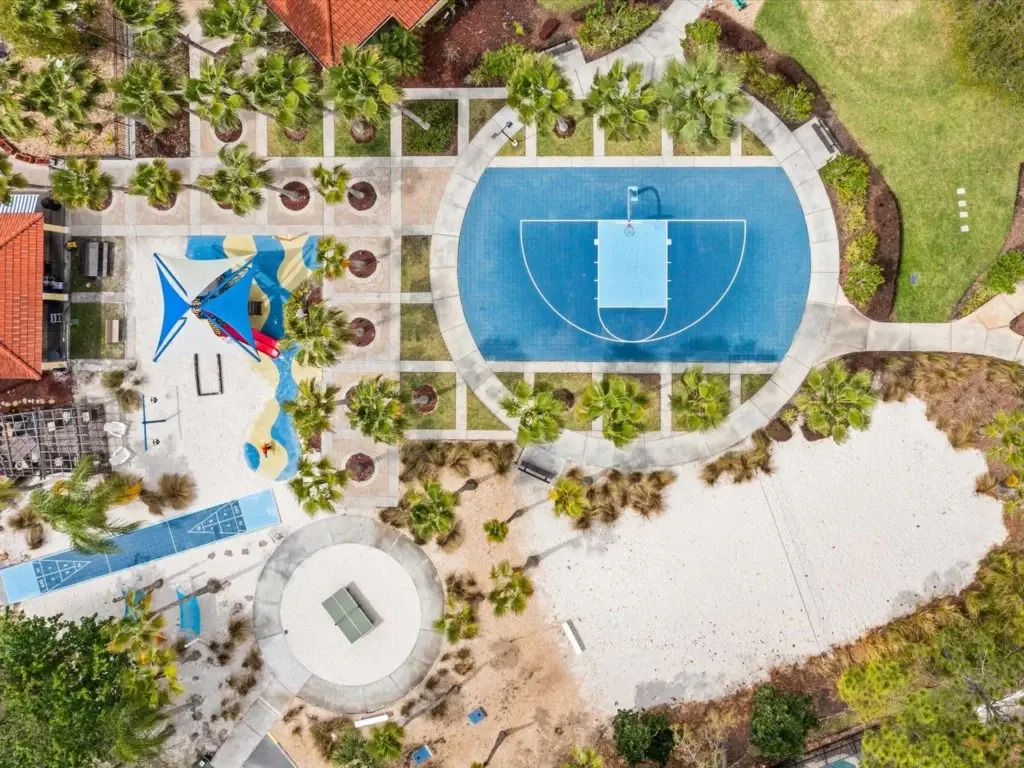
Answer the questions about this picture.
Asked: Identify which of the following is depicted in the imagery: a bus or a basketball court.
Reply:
basketball court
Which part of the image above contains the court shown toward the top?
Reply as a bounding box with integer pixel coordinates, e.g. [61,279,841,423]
[457,167,810,362]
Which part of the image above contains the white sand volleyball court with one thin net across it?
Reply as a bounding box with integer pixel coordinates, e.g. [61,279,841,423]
[528,397,1005,719]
